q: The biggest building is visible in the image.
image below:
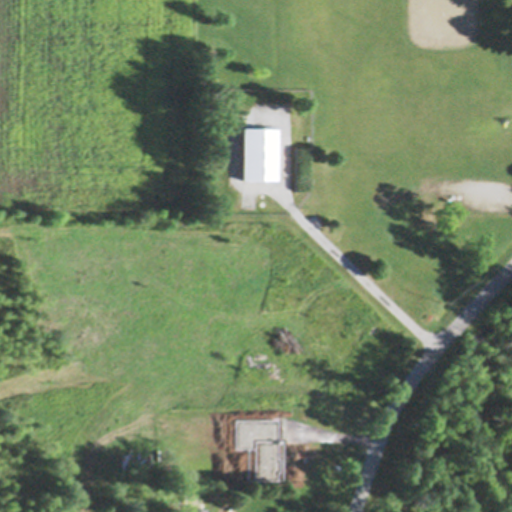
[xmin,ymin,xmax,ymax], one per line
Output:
[244,128,281,182]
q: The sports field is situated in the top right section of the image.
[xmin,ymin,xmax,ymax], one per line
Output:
[410,0,484,48]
